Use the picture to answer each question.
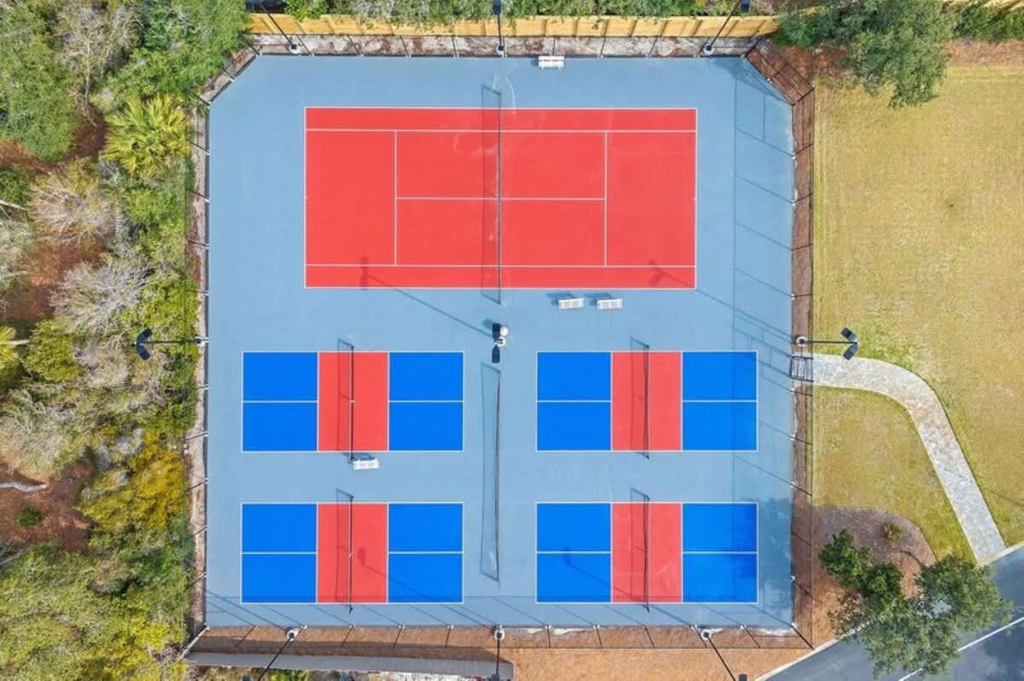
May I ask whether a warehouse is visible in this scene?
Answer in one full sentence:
No, the picture doesn't show any warehouse.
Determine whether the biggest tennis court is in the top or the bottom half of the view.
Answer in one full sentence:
Seen from above, the biggest tennis court lies in the top half of the view.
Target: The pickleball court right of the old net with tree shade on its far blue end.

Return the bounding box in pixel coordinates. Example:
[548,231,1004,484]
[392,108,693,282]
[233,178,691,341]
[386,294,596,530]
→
[536,502,759,604]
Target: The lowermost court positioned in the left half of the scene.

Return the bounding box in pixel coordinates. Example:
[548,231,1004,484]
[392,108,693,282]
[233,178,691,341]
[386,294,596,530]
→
[241,502,464,604]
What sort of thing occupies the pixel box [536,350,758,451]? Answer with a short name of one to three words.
sports court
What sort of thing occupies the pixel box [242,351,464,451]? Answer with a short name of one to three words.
sports court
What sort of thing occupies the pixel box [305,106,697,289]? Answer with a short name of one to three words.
tennis court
